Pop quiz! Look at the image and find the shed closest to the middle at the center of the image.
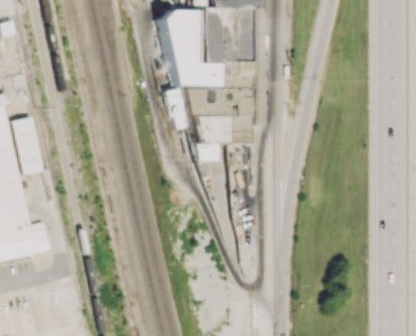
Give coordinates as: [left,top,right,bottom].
[195,144,222,162]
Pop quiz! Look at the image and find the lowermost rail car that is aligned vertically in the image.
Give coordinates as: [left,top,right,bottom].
[88,296,104,336]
